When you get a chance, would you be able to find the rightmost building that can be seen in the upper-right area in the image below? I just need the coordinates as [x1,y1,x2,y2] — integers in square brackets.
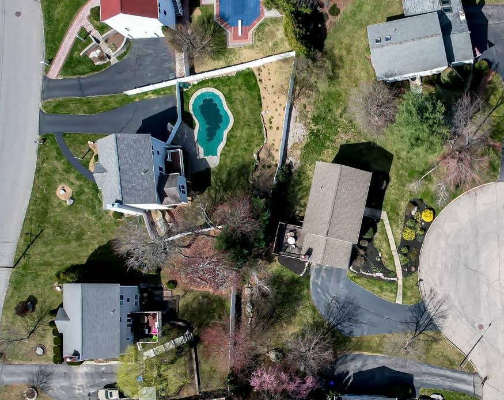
[366,0,473,90]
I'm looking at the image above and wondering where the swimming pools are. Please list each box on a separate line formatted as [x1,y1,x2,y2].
[189,87,234,159]
[214,0,265,43]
